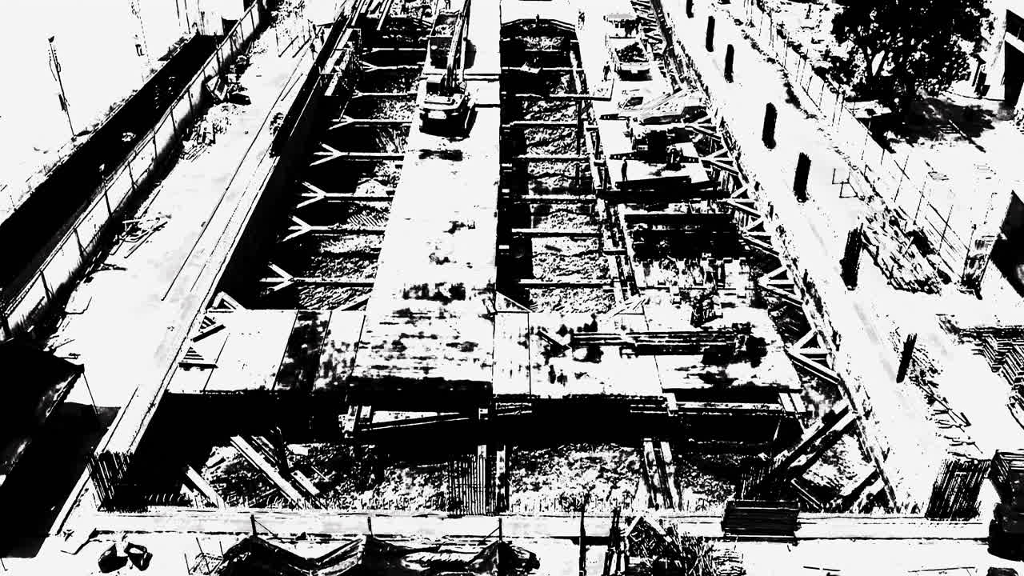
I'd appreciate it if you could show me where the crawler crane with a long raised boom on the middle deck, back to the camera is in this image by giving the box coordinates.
[417,0,482,126]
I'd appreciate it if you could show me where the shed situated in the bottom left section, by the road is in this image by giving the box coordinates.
[0,343,95,542]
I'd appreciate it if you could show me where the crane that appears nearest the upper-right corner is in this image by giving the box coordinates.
[611,61,715,153]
